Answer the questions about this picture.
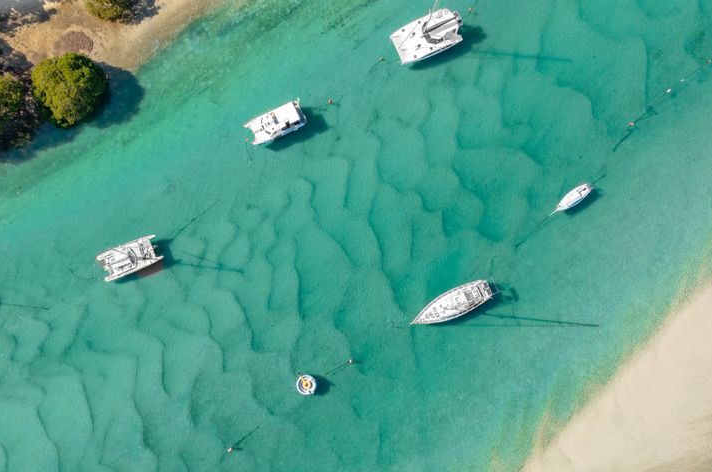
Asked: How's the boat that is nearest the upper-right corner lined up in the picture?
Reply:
diagonally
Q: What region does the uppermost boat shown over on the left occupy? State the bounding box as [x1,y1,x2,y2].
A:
[245,97,312,148]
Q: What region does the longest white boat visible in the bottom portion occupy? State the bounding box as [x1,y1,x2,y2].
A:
[409,279,500,326]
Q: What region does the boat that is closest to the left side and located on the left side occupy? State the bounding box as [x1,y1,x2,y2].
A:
[97,234,166,285]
